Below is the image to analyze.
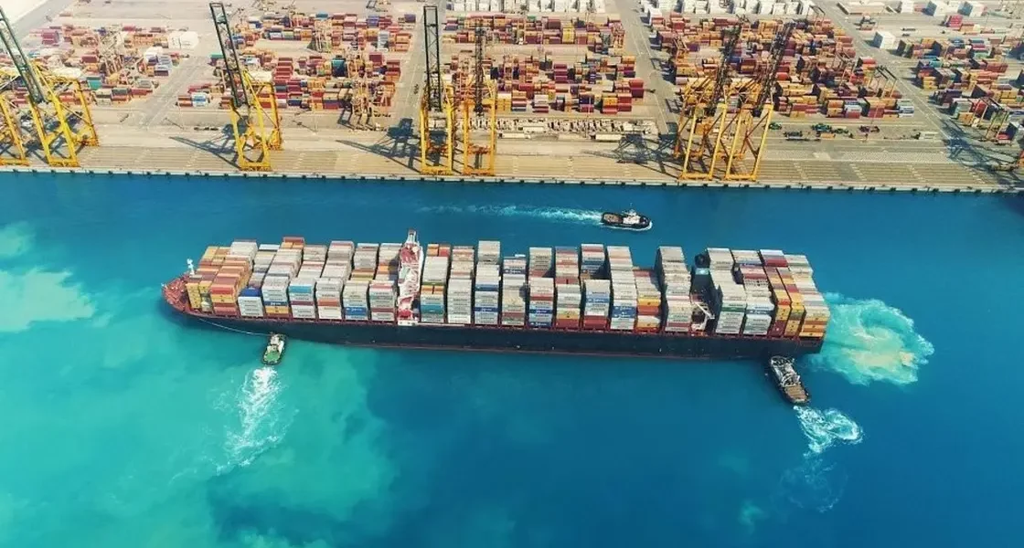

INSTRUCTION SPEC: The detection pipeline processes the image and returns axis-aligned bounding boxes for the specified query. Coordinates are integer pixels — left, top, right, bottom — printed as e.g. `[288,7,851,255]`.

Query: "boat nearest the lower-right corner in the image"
[771,352,808,405]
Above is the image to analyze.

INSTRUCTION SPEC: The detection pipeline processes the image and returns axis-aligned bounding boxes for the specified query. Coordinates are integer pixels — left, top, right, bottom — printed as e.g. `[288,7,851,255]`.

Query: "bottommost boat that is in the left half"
[262,330,284,366]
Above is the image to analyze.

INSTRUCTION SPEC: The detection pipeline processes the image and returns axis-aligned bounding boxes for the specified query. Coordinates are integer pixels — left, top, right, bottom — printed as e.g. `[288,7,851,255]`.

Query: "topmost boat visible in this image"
[603,206,653,226]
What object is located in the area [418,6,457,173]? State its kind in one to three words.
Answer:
container crane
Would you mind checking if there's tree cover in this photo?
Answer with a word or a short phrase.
No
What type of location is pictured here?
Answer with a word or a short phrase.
port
